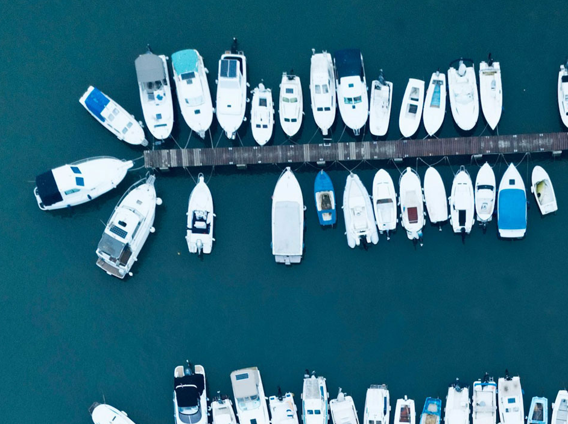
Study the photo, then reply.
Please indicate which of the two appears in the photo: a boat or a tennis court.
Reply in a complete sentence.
It is a boat that can be seen here.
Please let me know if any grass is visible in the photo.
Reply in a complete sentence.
No, the scene doesn't show any grass.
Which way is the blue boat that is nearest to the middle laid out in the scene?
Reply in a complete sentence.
The blue boat that is nearest to the middle runs vertically in the image.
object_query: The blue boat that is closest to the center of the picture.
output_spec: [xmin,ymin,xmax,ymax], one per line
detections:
[315,160,336,228]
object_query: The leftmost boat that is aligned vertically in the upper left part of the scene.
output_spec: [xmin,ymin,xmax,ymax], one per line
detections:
[136,44,173,151]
